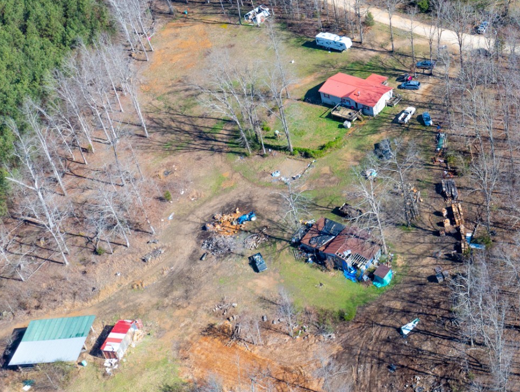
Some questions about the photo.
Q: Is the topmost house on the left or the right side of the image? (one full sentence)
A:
It is on the right.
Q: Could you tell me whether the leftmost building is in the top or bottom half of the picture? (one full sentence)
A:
The leftmost building sits in the bottom half of the picture.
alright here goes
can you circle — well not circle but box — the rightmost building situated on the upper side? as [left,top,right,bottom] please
[319,75,400,125]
